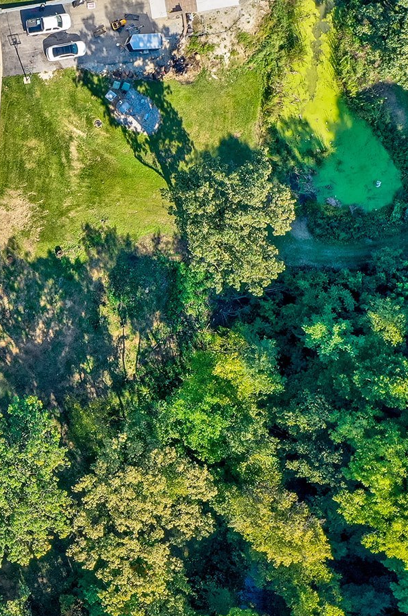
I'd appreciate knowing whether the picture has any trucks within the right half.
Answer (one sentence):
No, no truck can be made out within the right half.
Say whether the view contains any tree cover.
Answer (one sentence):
Yes, some tree cover is visible.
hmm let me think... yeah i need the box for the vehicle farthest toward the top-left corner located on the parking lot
[20,12,72,37]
